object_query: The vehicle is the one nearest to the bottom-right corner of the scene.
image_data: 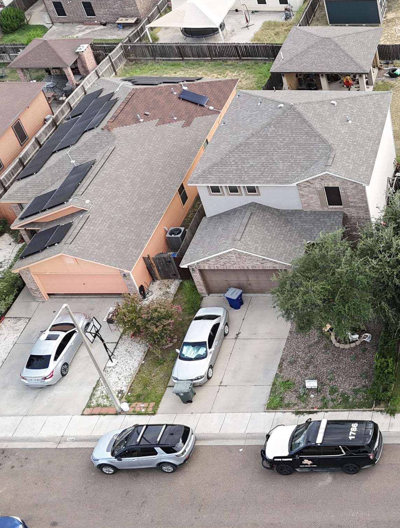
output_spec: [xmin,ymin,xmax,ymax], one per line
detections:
[258,416,384,475]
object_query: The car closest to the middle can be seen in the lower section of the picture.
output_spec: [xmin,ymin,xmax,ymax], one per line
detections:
[172,312,229,390]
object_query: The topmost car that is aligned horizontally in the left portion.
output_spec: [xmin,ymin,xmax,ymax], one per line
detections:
[86,421,197,475]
